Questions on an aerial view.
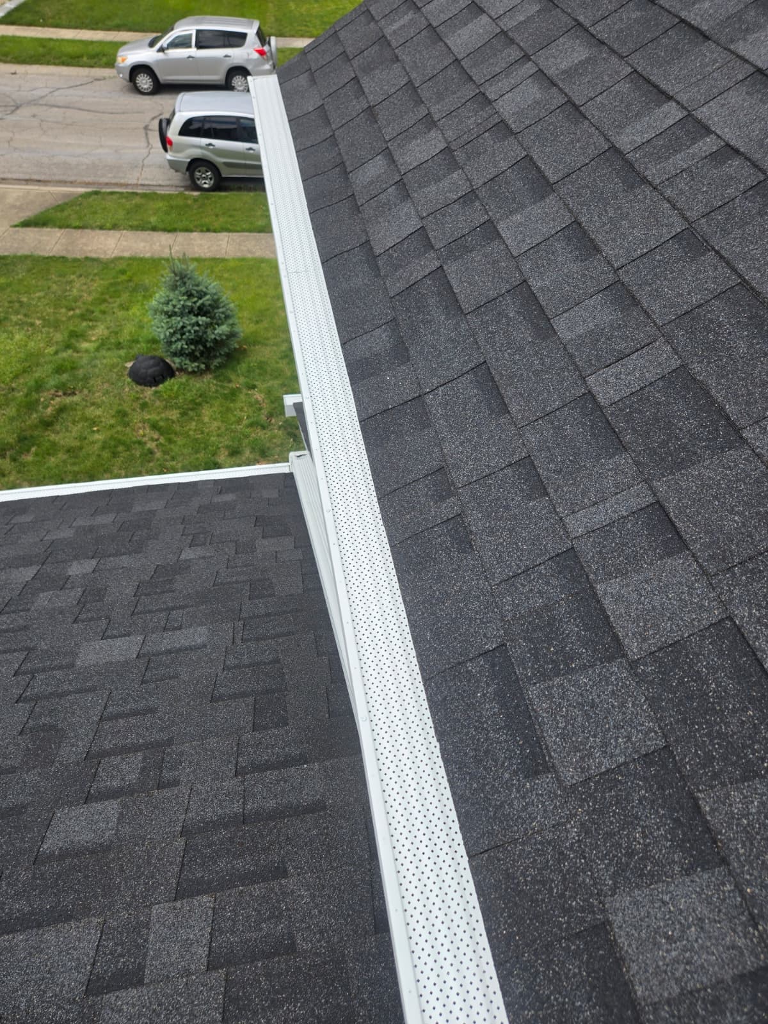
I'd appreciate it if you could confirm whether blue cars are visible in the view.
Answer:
No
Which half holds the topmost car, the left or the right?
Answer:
left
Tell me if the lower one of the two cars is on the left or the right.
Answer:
left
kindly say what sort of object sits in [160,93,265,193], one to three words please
car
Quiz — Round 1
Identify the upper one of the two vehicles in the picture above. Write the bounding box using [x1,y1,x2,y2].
[112,14,278,98]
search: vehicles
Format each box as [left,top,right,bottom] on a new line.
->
[112,14,278,98]
[160,93,265,193]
